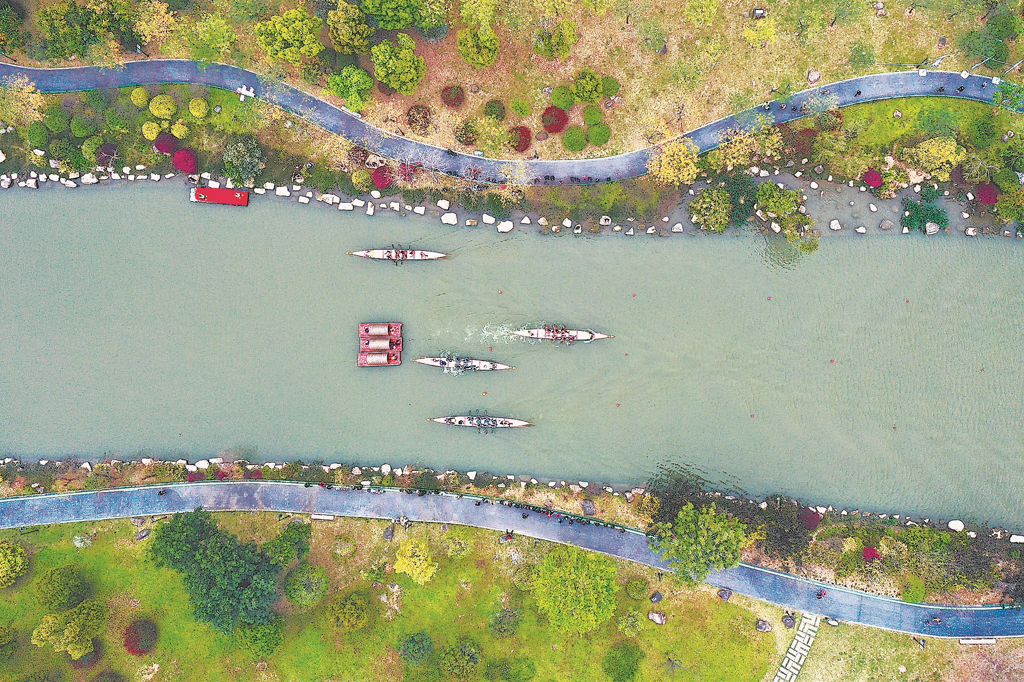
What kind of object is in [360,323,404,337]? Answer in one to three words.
boat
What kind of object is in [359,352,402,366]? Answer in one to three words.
boat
